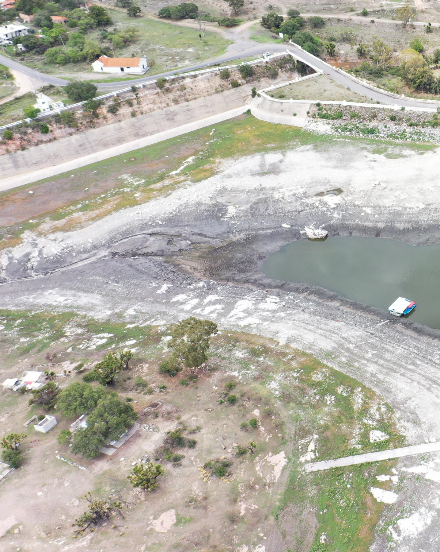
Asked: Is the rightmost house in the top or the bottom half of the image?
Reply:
top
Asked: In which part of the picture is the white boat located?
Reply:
right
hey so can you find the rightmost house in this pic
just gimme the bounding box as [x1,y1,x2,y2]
[87,51,156,77]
